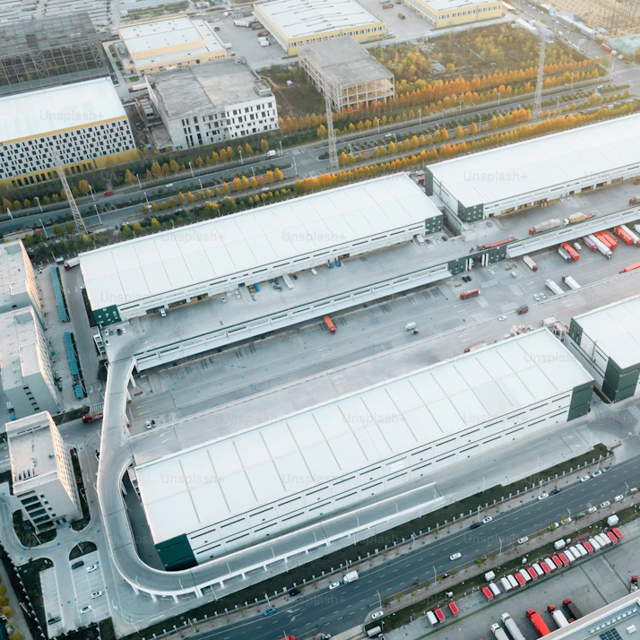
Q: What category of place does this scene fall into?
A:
industrial area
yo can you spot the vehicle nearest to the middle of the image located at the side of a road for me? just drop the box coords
[322,315,337,335]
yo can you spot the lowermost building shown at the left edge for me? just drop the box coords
[2,404,82,536]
